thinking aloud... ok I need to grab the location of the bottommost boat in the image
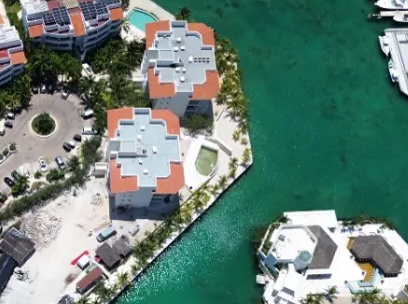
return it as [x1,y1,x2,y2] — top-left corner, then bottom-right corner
[387,57,401,84]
